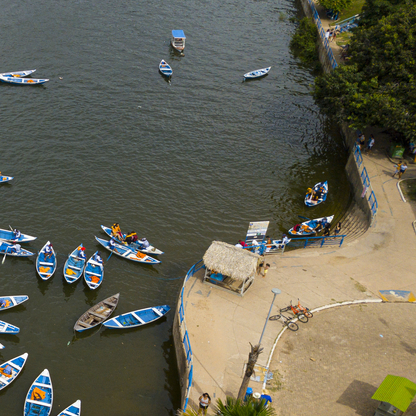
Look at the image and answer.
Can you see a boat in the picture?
Yes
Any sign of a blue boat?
Yes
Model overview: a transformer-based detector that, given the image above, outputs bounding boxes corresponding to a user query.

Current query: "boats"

[302,181,329,208]
[24,368,54,416]
[170,23,186,56]
[56,400,80,416]
[288,215,334,236]
[0,353,28,390]
[159,60,173,79]
[0,240,34,258]
[102,306,171,329]
[95,236,162,266]
[0,228,37,243]
[0,77,49,85]
[100,225,164,256]
[0,70,36,78]
[74,293,120,333]
[0,296,30,311]
[37,243,57,282]
[244,67,272,81]
[0,320,21,336]
[64,244,87,286]
[85,252,104,292]
[0,175,13,184]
